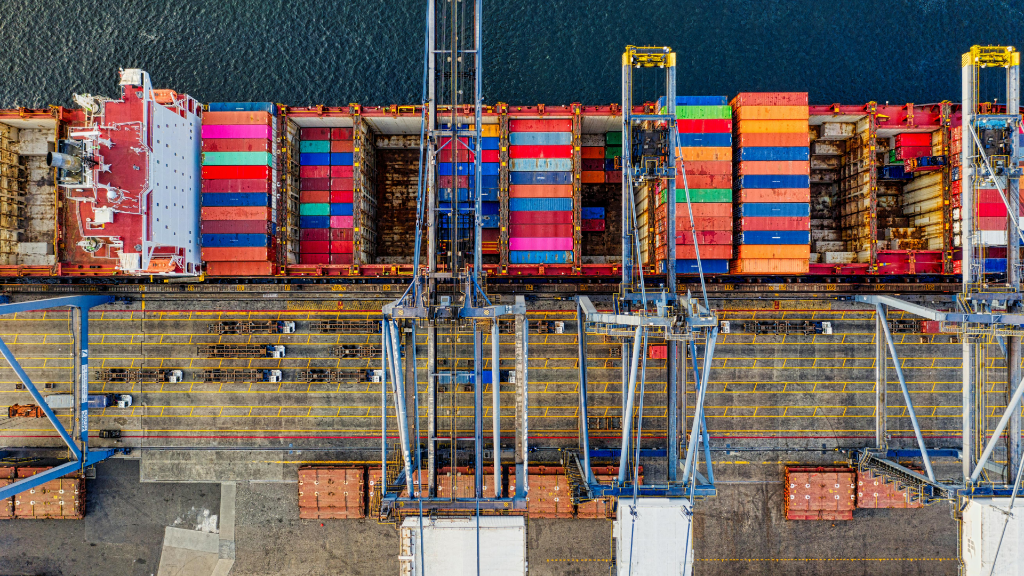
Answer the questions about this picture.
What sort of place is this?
port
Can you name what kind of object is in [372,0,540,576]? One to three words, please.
container crane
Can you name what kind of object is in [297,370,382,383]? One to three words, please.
vehicle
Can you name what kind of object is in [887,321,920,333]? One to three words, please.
vehicle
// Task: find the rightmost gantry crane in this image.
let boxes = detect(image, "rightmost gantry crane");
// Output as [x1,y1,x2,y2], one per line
[826,41,1024,576]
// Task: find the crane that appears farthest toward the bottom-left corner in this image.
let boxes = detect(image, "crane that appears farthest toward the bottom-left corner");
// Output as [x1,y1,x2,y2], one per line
[0,295,134,501]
